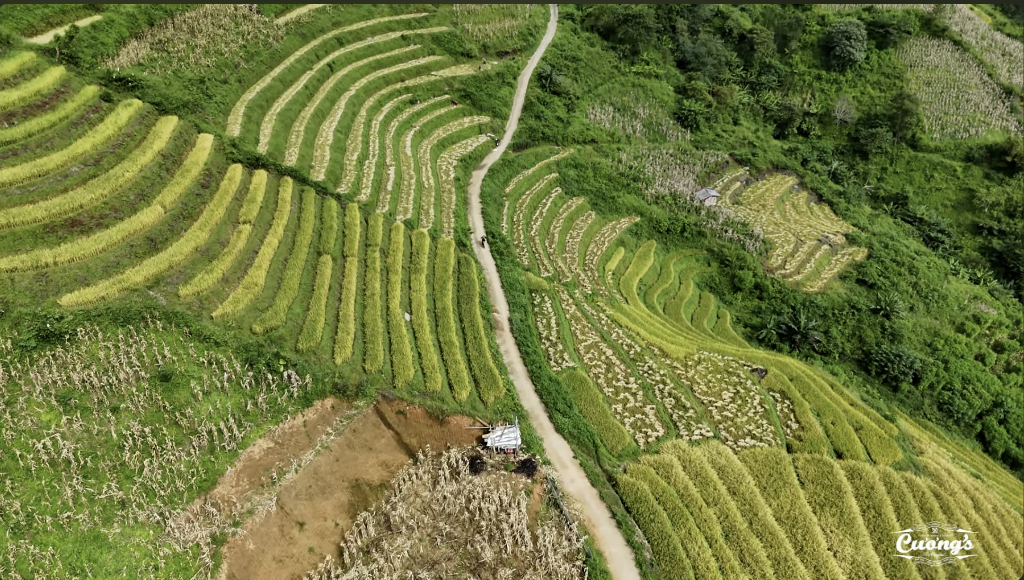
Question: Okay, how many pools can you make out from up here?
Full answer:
The count of pools is 0.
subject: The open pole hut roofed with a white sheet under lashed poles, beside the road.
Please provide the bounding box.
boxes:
[461,418,524,465]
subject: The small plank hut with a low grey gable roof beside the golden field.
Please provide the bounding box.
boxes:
[693,187,726,208]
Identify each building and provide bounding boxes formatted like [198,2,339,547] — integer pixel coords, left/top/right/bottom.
[693,187,726,208]
[461,418,524,465]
